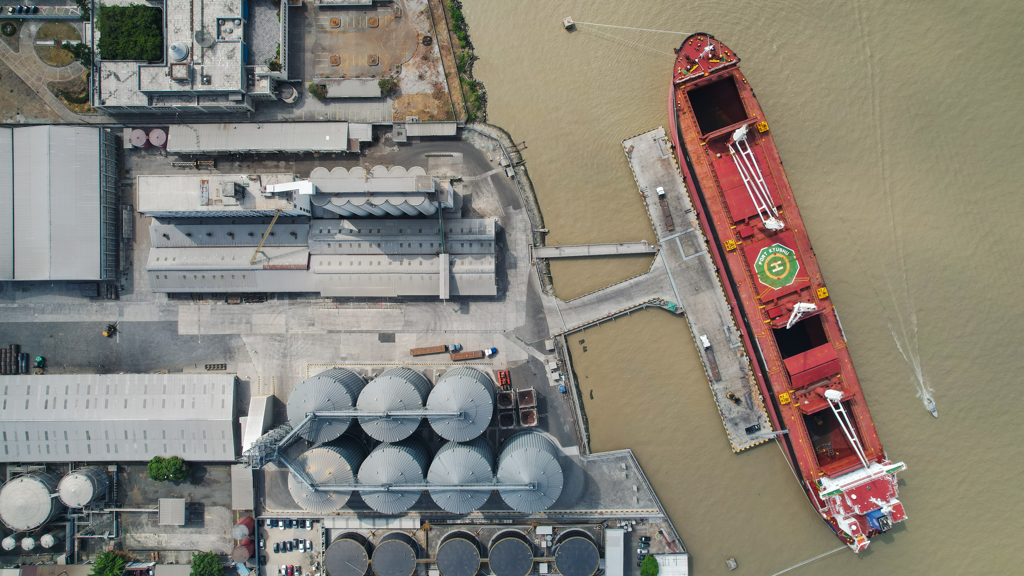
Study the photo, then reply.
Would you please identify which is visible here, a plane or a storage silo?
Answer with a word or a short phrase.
storage silo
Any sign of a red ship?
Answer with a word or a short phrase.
Yes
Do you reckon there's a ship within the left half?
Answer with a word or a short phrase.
No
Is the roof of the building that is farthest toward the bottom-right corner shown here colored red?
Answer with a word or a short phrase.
No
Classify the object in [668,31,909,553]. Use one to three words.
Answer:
ship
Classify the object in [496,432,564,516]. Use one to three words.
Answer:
silo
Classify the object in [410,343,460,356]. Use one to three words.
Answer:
vehicle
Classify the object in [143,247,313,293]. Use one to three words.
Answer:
building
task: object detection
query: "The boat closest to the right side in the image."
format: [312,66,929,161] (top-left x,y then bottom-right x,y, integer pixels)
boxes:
[926,398,938,418]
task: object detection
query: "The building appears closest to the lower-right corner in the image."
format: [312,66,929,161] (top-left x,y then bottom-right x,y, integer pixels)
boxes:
[651,548,688,576]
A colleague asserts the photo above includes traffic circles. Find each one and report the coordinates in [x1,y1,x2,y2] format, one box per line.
[34,20,80,66]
